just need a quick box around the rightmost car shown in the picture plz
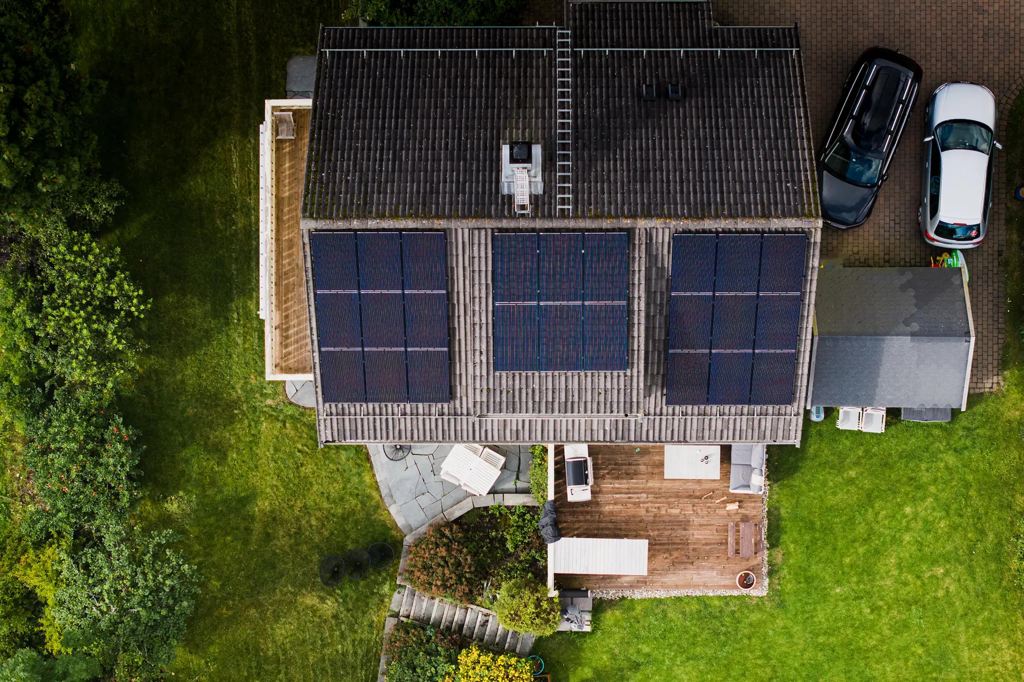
[917,81,1008,250]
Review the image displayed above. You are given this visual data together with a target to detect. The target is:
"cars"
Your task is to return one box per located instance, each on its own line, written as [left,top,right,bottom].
[917,81,1008,250]
[814,41,924,232]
